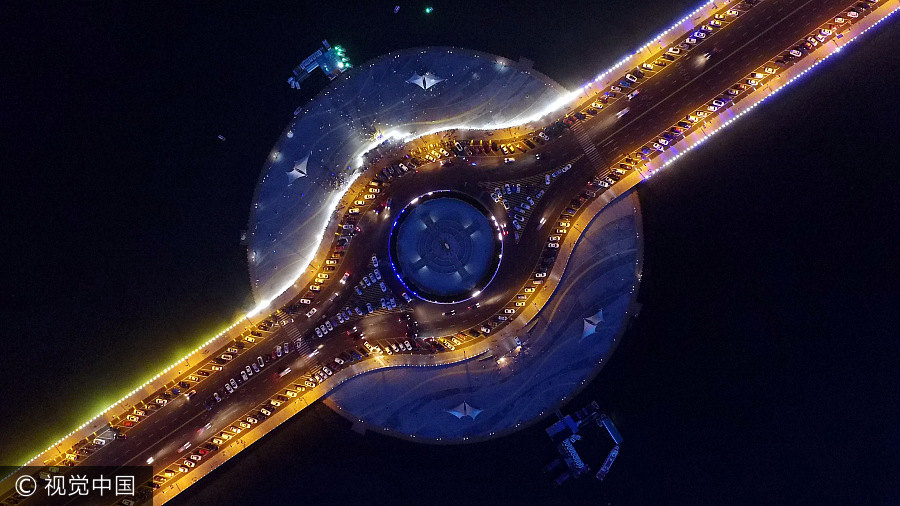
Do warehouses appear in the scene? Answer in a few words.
No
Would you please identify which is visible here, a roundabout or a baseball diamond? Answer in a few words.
roundabout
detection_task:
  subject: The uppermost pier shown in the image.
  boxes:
[297,48,346,82]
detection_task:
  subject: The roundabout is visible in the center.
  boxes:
[388,190,504,304]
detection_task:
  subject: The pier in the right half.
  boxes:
[545,409,625,480]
